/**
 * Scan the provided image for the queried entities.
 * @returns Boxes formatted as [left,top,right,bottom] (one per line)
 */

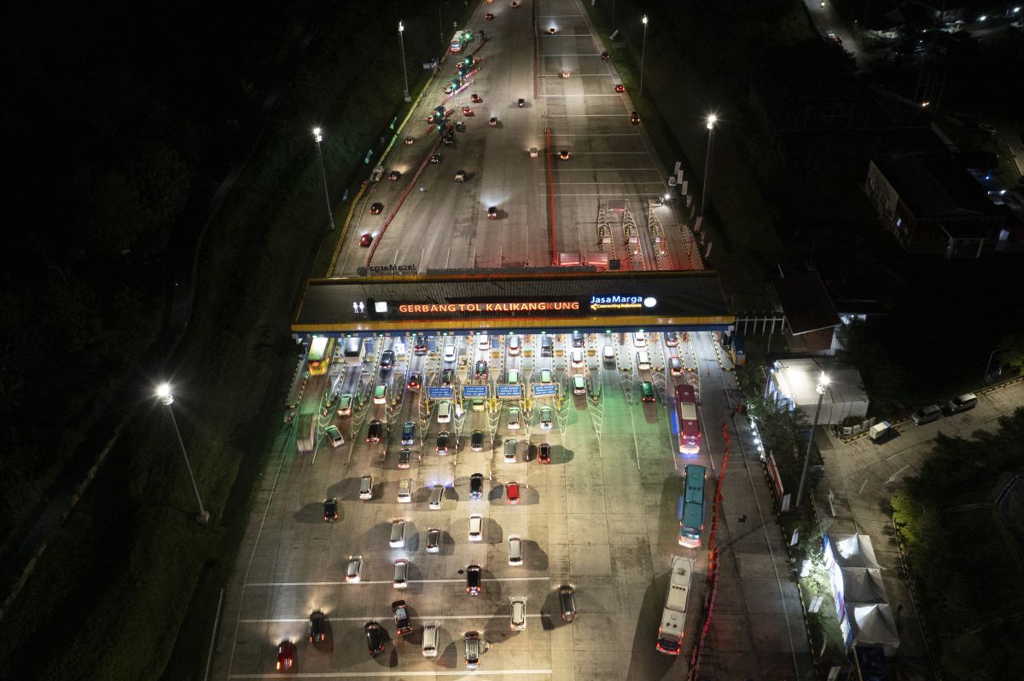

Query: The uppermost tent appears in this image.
[831,532,882,567]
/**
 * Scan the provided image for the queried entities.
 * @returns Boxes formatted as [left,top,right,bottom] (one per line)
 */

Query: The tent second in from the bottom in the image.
[837,565,892,612]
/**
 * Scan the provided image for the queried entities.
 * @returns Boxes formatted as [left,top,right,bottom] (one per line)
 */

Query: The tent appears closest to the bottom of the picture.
[842,601,902,654]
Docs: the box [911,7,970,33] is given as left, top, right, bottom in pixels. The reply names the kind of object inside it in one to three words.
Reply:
house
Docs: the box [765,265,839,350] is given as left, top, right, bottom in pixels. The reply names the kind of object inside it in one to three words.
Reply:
house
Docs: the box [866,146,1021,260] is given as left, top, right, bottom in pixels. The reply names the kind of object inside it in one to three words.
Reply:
building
